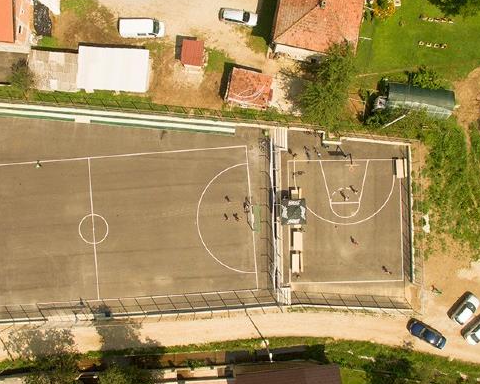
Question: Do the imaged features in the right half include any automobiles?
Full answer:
Yes, looking in the right half, one can make out an automobile.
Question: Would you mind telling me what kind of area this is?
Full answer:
The area seen from above is a sports ground.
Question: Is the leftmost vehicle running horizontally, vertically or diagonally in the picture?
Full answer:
I'd say the leftmost vehicle is aligned horizontally in the picture.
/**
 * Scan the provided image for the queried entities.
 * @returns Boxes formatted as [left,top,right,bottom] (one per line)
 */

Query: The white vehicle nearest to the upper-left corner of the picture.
[120,17,165,39]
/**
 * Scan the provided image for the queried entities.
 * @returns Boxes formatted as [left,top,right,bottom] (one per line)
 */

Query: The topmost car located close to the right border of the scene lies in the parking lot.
[450,292,480,326]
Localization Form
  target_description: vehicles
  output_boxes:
[450,292,480,326]
[408,319,446,348]
[220,8,258,27]
[464,318,480,347]
[120,17,165,39]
